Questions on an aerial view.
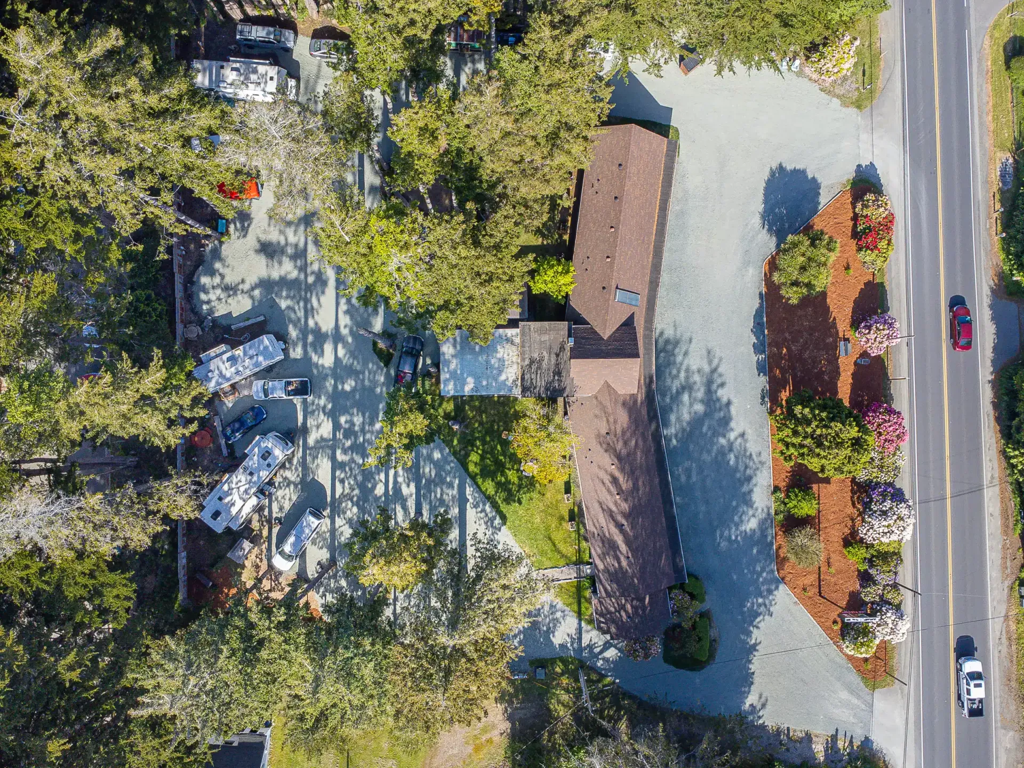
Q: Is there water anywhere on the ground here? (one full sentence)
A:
No, there's no water in this view.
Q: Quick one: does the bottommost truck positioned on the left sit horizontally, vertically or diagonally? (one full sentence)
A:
What the image shows is the bottommost truck positioned on the left lying diagonally.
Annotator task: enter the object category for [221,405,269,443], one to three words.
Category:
car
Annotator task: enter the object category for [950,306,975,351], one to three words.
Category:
car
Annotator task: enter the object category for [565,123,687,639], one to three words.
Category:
building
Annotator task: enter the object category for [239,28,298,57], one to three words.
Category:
truck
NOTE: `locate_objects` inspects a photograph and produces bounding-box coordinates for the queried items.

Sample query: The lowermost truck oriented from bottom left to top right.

[271,509,322,571]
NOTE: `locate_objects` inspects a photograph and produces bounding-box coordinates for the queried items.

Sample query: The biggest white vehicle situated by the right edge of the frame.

[957,655,986,716]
